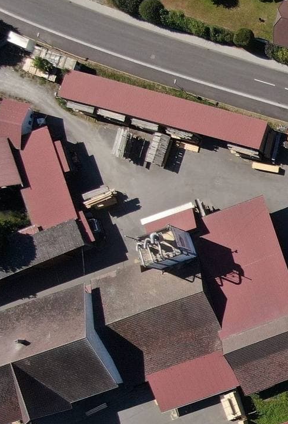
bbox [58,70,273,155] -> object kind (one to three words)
shed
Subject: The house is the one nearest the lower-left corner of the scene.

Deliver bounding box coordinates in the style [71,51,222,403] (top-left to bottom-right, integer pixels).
[0,283,131,424]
